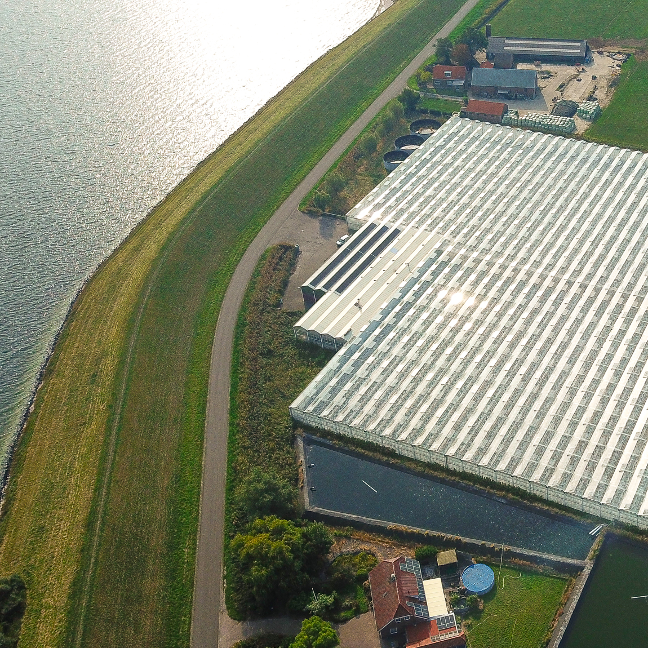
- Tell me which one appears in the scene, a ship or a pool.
pool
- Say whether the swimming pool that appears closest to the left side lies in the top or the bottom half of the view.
bottom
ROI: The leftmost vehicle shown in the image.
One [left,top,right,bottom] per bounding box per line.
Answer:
[335,233,349,246]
